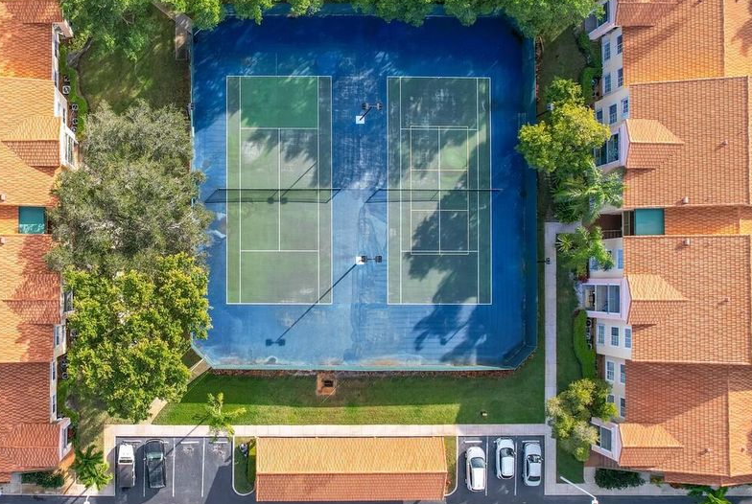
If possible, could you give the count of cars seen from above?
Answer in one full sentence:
The count of cars comes to 5.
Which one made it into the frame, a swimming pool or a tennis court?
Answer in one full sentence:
I can see a tennis court in this picture.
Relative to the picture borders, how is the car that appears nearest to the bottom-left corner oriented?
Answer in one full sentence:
The car that appears nearest to the bottom-left corner runs vertically in the image.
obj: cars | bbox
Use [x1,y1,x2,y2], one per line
[493,435,518,481]
[465,444,489,492]
[520,441,546,487]
[113,440,138,495]
[143,437,168,490]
